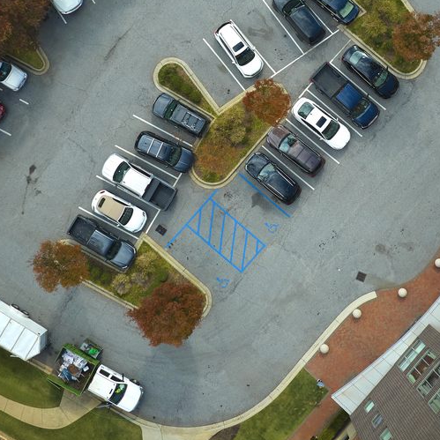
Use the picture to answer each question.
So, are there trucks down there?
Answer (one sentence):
Yes, a truck is visible in the scene.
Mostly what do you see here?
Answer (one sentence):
For the most part, this view shows paved ground.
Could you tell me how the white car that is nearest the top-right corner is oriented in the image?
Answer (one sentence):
The white car that is nearest the top-right corner has been laid out diagonally relative to the frame.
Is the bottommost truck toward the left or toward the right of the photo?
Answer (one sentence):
The bottommost truck appears in the left half of the scene.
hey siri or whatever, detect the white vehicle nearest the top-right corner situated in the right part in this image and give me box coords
[291,96,350,150]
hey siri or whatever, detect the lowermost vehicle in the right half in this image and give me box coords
[246,152,298,208]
